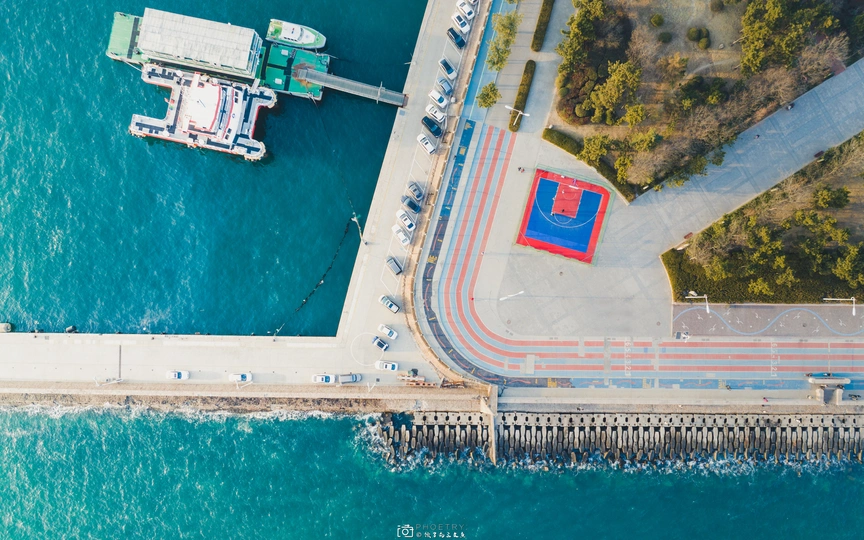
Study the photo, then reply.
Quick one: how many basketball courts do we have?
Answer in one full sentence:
The count comes to 1 basketball court.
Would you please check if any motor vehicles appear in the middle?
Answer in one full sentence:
Yes, you'll find a motor vehicle in the middle.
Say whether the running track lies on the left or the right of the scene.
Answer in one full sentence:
The running track appears in the right half of the scene.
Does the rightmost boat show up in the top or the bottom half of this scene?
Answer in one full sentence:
The rightmost boat sits in the top half of the picture.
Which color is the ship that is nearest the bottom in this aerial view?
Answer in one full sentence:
In this view, the ship that is nearest the bottom is white.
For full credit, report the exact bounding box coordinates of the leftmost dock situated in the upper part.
[265,43,335,108]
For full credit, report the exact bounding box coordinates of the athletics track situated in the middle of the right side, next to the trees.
[440,123,864,378]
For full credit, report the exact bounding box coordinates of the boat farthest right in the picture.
[266,19,326,50]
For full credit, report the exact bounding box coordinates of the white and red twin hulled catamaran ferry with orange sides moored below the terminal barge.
[127,62,278,163]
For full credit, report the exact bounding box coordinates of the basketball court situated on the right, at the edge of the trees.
[516,168,608,265]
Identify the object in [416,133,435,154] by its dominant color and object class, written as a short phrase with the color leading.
white car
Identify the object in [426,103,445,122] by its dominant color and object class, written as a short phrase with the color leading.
white car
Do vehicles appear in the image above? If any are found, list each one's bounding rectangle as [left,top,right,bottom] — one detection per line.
[377,323,398,340]
[429,88,449,108]
[426,103,445,122]
[416,133,435,154]
[312,375,334,384]
[391,224,410,245]
[436,75,454,94]
[456,0,476,19]
[407,180,424,201]
[370,336,390,353]
[379,295,399,314]
[229,373,251,383]
[396,210,415,230]
[422,116,442,137]
[384,256,404,277]
[446,26,466,48]
[166,370,189,381]
[401,194,421,214]
[338,375,362,384]
[438,57,457,79]
[451,11,471,32]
